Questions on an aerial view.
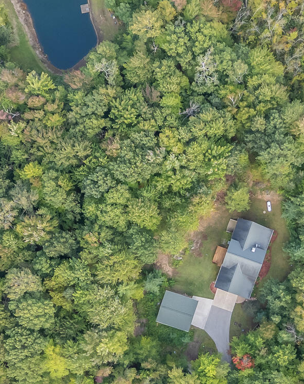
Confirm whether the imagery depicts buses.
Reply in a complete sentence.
No, I can see no bus in this picture.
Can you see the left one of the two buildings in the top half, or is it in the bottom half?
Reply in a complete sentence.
The bottom half of the photo is where the left one of the two buildings is.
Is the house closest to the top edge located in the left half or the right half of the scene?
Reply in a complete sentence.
It is on the right.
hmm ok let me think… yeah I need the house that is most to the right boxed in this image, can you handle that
[215,218,274,299]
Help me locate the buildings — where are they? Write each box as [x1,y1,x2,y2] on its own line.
[215,218,274,299]
[156,290,199,332]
